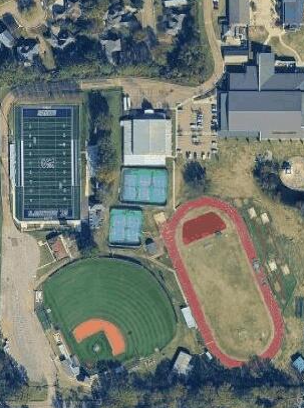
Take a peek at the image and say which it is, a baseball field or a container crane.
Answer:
baseball field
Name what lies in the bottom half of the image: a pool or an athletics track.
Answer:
athletics track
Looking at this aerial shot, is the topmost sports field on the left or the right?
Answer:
left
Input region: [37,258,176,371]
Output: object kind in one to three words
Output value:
baseball field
